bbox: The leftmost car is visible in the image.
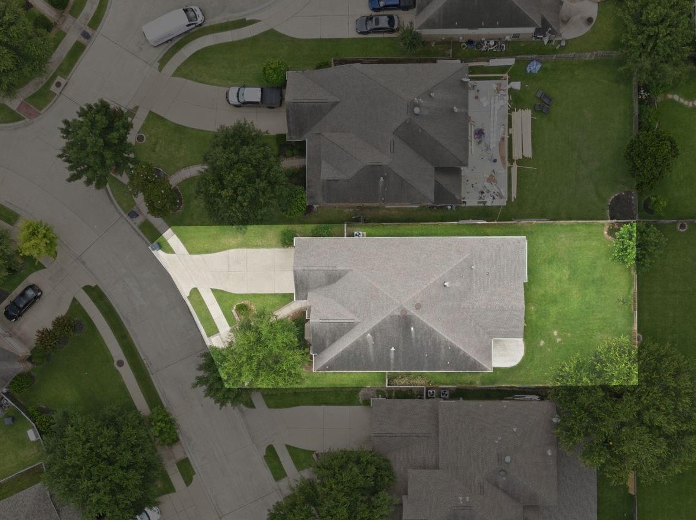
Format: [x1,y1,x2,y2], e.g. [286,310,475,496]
[1,279,44,326]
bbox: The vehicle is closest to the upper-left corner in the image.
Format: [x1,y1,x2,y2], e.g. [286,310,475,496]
[137,5,204,48]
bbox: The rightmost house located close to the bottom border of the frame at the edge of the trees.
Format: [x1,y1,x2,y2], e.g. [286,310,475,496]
[370,398,598,520]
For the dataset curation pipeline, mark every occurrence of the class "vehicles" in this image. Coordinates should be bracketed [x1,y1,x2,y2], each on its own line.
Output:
[354,13,401,35]
[367,0,414,13]
[226,84,284,109]
[123,505,164,520]
[1,279,44,326]
[137,5,204,48]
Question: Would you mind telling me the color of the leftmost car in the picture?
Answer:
black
